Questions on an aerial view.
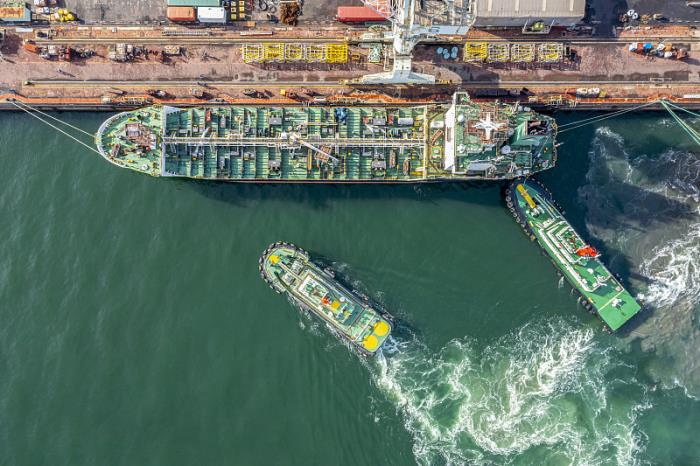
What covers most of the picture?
water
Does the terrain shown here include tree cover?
No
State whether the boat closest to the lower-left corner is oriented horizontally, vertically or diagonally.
diagonally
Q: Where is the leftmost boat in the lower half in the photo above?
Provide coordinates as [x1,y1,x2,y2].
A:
[261,241,397,358]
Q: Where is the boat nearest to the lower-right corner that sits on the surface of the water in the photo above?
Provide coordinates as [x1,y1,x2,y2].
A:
[506,176,645,329]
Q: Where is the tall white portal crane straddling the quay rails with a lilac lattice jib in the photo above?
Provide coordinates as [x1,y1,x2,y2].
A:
[360,0,481,85]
